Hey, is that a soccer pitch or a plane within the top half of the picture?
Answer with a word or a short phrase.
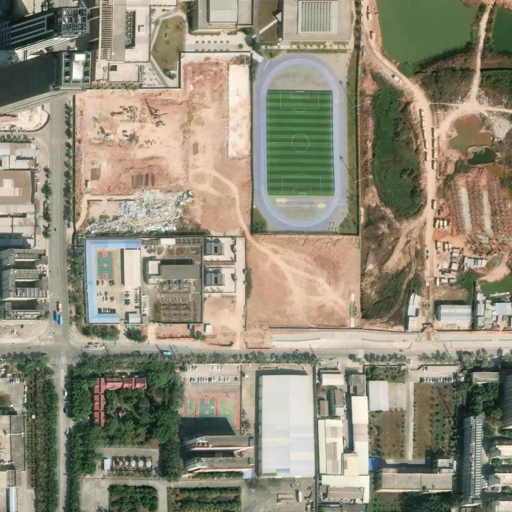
soccer pitch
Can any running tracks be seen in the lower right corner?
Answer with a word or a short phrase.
No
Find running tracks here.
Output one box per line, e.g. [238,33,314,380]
[257,54,348,231]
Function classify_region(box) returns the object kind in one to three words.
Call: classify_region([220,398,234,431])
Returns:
basketball court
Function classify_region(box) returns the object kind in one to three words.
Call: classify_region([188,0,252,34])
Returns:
building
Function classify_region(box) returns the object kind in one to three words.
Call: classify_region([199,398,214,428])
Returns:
basketball court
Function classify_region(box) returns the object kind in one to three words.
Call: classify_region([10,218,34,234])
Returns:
shed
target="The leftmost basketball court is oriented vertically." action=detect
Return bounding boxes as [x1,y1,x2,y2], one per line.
[98,251,112,280]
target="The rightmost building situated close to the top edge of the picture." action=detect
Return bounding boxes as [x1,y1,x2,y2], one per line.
[274,0,352,42]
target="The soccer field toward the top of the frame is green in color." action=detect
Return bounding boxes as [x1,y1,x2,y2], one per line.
[266,91,332,196]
